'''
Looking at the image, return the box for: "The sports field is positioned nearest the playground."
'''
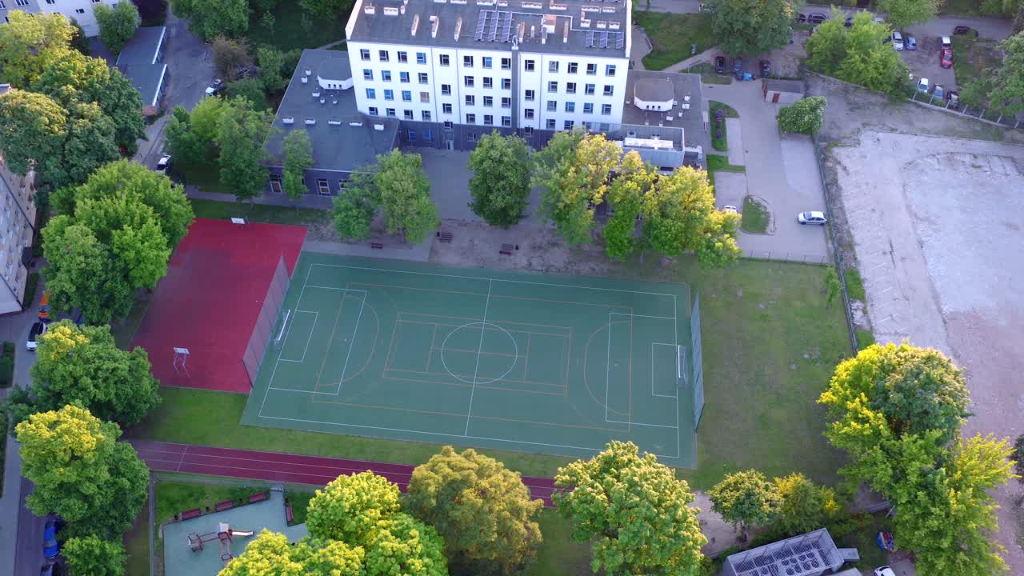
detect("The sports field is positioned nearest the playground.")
[239,251,696,469]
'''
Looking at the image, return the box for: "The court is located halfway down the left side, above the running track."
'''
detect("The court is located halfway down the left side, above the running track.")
[136,218,309,393]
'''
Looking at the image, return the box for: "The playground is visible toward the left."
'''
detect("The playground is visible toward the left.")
[163,485,362,576]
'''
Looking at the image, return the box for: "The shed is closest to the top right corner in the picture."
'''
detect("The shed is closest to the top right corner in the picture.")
[764,74,808,103]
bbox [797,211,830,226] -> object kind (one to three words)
car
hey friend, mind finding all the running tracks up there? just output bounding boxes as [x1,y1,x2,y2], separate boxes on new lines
[120,439,624,514]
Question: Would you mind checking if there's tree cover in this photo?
Yes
